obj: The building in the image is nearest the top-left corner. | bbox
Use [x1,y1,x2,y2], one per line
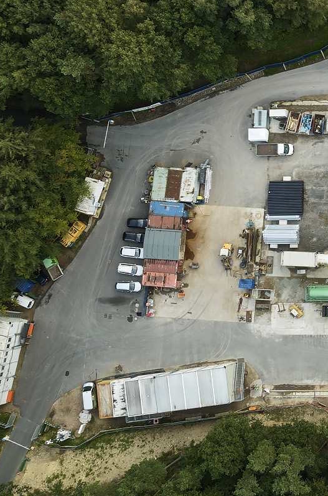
[76,177,113,216]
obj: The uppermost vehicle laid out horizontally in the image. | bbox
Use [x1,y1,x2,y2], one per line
[257,142,294,156]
